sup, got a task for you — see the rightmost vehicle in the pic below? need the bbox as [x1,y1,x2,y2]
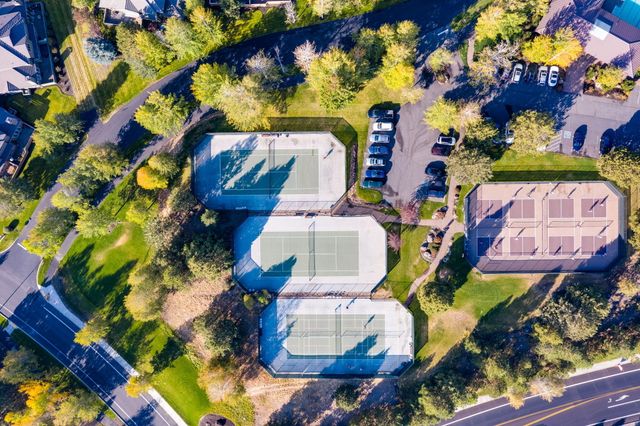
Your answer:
[598,132,611,152]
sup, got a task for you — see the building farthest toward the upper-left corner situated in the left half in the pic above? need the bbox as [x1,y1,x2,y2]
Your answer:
[0,0,57,94]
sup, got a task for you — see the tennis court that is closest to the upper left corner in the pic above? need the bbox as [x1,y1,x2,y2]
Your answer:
[195,134,346,210]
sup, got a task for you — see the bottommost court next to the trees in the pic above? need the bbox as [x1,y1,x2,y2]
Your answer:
[261,299,413,374]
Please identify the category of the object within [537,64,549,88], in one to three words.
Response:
vehicle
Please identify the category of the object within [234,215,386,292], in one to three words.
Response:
tennis court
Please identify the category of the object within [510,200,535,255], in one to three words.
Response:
sports court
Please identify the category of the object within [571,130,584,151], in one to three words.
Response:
vehicle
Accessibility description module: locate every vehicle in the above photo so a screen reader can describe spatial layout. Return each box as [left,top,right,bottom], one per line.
[571,130,584,151]
[436,136,456,144]
[428,177,448,186]
[428,187,448,196]
[365,169,385,177]
[369,109,394,119]
[369,145,389,154]
[537,64,549,88]
[548,67,559,87]
[598,132,611,152]
[511,63,523,84]
[370,134,390,142]
[363,179,383,188]
[432,145,452,154]
[373,122,393,131]
[366,157,386,166]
